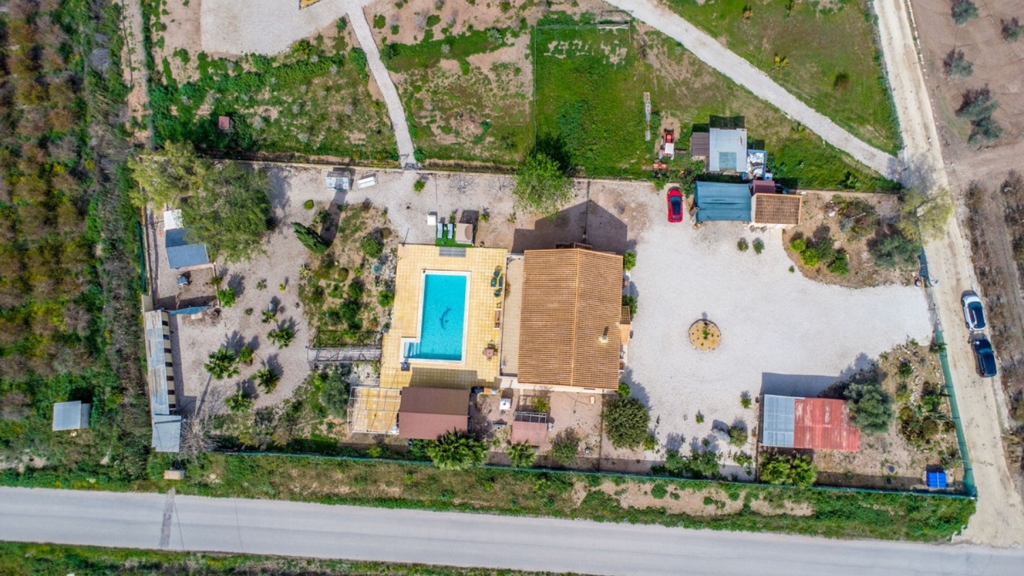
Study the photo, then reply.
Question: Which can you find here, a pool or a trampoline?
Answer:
pool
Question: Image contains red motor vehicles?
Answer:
Yes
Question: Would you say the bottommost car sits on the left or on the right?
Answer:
right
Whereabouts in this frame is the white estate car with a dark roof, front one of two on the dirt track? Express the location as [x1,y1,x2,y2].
[959,293,989,331]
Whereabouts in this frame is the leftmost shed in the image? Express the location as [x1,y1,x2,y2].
[53,401,92,431]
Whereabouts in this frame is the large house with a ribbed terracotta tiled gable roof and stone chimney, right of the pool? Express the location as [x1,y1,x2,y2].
[500,244,631,394]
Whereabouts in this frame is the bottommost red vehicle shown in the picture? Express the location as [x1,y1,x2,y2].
[666,188,684,223]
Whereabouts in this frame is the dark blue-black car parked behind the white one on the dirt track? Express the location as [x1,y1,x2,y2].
[969,338,1000,378]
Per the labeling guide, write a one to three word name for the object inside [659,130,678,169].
work vehicle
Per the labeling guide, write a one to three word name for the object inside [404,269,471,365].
swimming pool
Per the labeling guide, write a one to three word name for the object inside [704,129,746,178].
building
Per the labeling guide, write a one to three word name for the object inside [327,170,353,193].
shed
